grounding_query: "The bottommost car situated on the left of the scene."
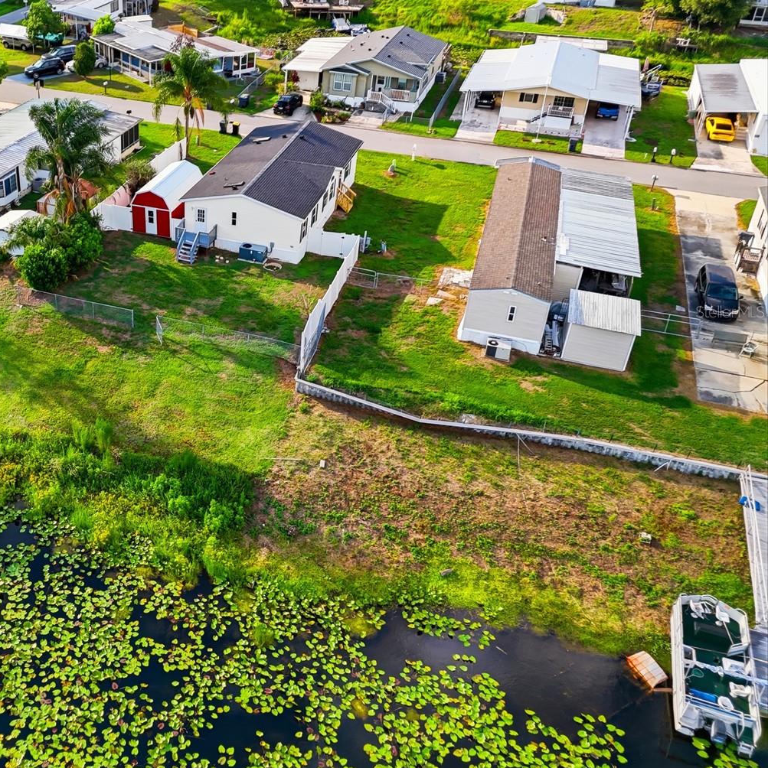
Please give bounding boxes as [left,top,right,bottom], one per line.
[274,92,306,117]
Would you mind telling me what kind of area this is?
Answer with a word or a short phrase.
residential area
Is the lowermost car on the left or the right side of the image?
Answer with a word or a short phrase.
right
